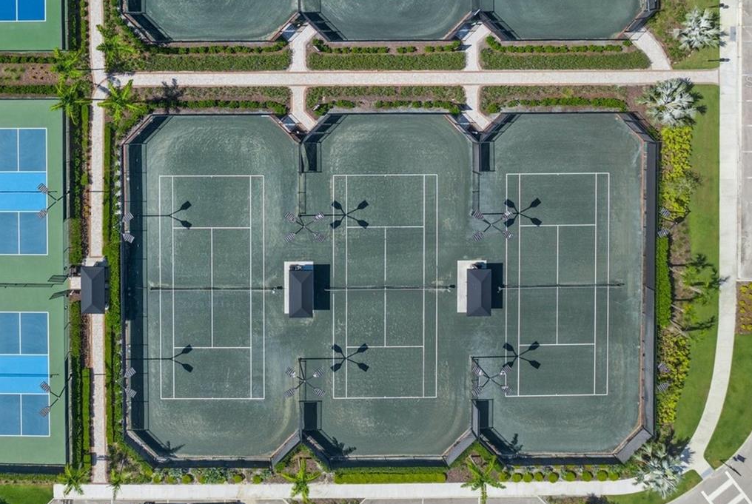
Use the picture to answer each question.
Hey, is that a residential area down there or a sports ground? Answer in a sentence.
The picture captures a sports ground.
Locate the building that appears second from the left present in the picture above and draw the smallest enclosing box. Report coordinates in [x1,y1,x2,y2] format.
[285,261,312,317]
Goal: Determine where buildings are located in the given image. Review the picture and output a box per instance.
[80,264,106,313]
[285,261,312,317]
[457,260,491,316]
